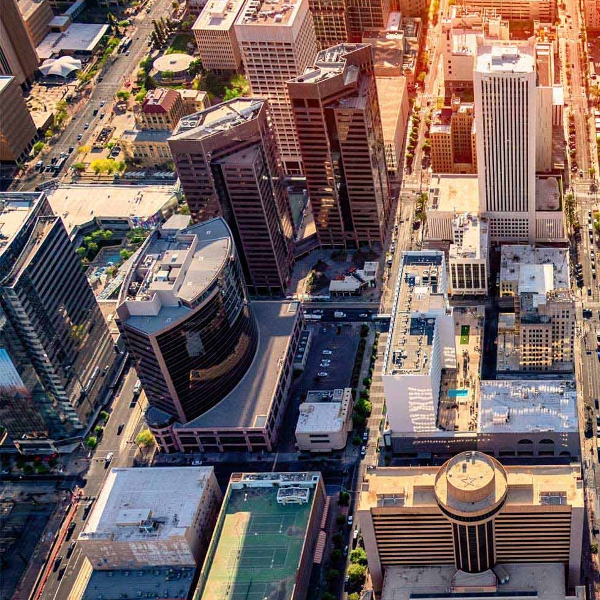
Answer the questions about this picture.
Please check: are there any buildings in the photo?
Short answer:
Yes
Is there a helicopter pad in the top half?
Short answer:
No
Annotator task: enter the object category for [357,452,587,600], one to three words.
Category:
building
